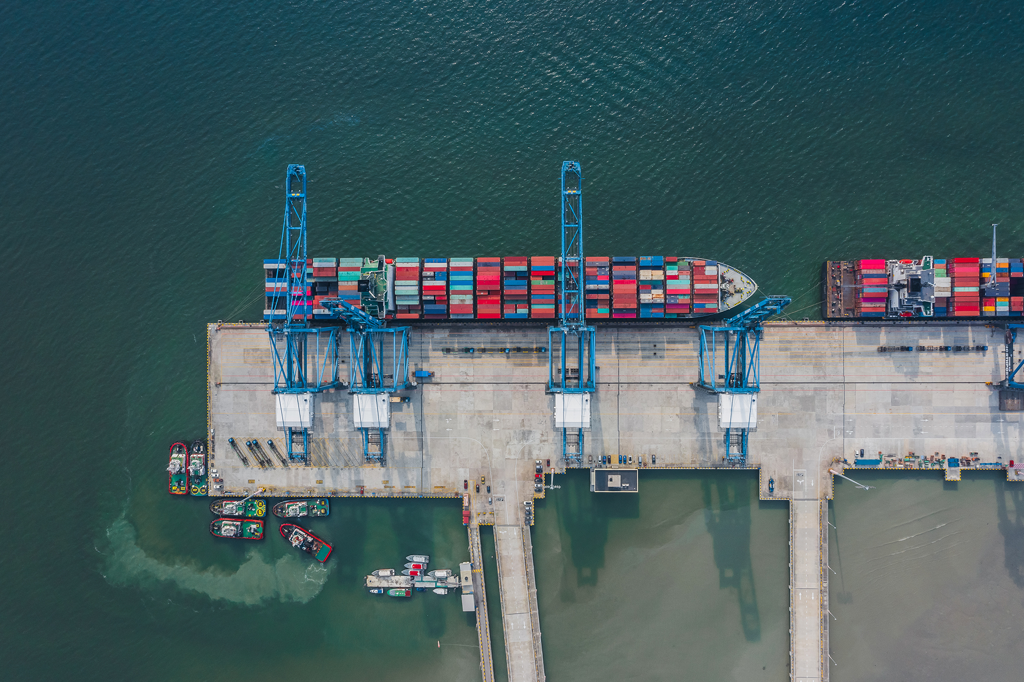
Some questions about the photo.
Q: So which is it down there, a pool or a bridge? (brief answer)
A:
bridge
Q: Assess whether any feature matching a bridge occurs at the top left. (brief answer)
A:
No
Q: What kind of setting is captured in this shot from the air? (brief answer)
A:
port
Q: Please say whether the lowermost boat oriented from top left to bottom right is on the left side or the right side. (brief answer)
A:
left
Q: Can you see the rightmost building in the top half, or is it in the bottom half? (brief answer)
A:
bottom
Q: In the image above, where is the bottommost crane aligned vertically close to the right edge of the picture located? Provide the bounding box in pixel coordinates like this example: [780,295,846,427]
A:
[995,327,1024,389]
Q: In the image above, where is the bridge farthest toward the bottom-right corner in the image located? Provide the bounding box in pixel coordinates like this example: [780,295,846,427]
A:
[787,499,830,682]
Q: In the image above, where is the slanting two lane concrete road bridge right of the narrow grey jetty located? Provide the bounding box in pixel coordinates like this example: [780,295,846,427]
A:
[492,525,545,682]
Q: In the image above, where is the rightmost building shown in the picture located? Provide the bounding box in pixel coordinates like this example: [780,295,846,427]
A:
[590,467,638,492]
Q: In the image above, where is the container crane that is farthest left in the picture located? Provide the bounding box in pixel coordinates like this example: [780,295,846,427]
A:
[262,162,347,462]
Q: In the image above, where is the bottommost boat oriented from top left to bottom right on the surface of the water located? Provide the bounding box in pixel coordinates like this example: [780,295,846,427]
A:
[280,519,336,566]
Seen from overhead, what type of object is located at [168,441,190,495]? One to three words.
boat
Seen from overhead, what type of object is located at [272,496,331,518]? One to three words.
boat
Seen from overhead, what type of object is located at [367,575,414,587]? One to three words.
pier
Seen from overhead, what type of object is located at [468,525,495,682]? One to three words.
pier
